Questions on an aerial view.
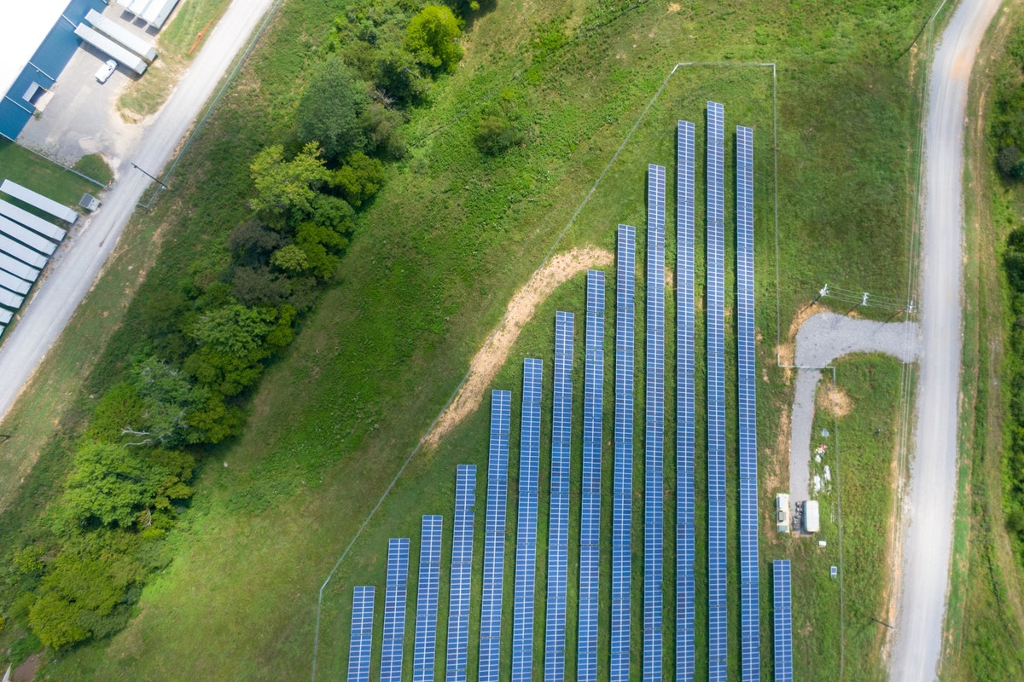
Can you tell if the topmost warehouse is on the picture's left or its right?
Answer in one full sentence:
It is on the left.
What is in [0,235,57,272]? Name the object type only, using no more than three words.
trailer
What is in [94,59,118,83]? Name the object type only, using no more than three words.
truck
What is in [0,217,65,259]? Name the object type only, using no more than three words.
trailer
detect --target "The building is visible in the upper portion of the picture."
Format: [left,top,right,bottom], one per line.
[0,0,112,139]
